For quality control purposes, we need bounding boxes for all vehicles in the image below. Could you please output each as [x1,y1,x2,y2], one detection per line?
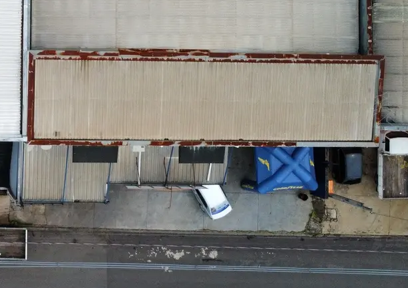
[329,146,363,186]
[373,127,408,200]
[0,227,27,261]
[183,181,229,220]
